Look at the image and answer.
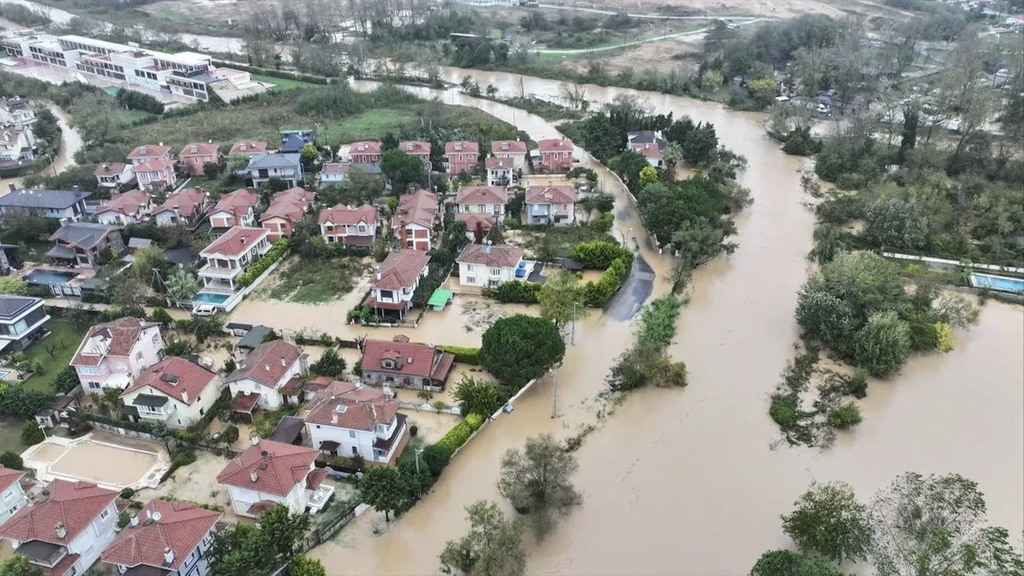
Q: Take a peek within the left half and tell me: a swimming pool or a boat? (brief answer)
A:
swimming pool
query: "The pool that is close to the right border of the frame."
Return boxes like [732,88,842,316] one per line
[972,274,1024,296]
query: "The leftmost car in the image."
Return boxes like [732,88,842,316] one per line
[190,302,217,314]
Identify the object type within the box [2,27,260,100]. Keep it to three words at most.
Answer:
building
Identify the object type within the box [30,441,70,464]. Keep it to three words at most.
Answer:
swimming pool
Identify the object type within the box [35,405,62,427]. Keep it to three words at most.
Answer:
shed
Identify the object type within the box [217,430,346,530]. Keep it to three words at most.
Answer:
house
